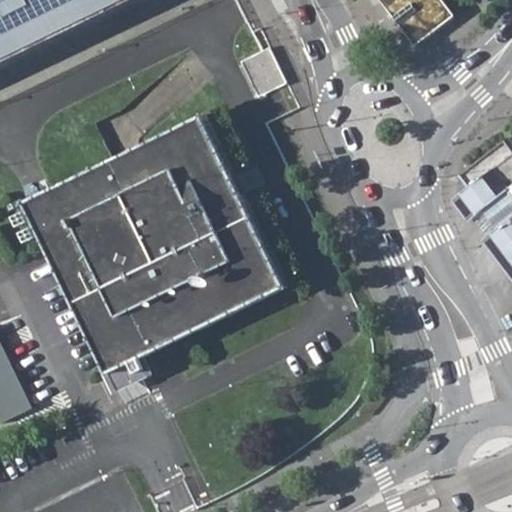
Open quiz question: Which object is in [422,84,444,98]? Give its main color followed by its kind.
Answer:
white car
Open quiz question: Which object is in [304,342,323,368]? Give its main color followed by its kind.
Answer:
white vehicle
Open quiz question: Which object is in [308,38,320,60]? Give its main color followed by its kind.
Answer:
gray vehicle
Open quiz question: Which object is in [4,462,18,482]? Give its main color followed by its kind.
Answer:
white car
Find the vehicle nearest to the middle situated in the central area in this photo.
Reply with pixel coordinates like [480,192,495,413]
[274,198,288,217]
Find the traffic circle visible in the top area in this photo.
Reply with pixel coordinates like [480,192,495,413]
[336,79,422,189]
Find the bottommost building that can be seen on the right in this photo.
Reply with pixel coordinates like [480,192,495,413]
[484,220,512,288]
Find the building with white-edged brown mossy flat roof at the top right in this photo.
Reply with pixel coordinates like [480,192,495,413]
[378,0,453,42]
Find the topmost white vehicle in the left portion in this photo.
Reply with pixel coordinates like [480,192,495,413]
[30,264,54,280]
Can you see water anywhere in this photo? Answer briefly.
No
